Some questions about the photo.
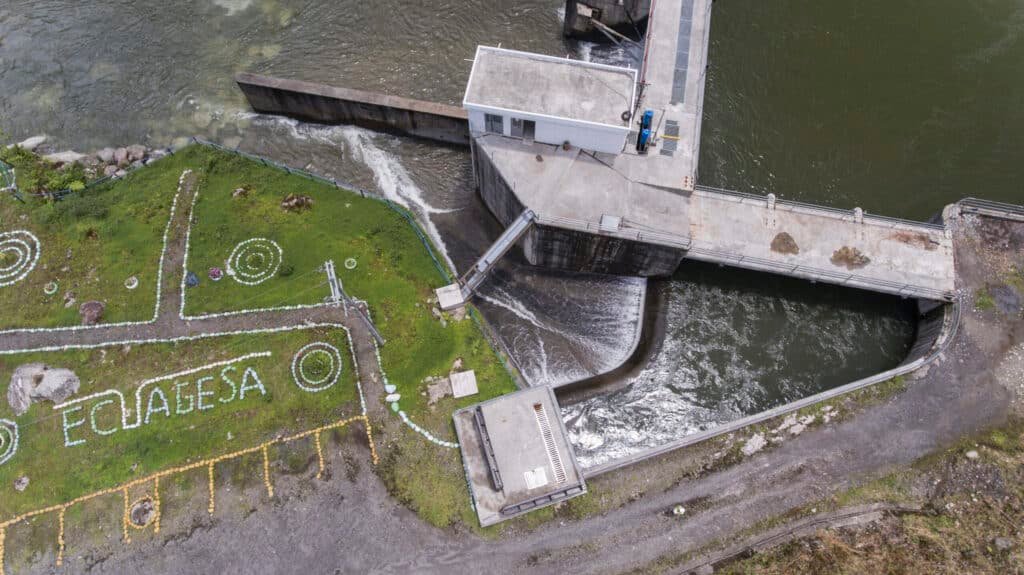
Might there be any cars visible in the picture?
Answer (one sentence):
No, there isn't any car down there.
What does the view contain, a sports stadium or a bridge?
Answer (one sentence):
It is a bridge that can be seen here.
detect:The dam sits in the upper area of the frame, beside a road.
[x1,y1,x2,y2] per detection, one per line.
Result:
[236,0,714,411]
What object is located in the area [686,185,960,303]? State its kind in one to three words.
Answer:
bridge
